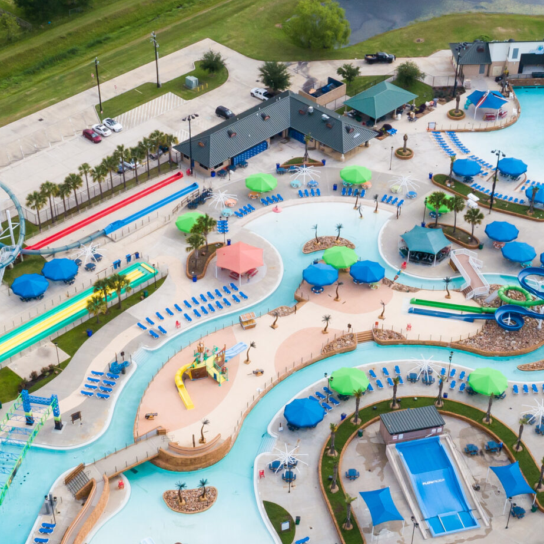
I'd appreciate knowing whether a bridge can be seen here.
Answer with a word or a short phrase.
Yes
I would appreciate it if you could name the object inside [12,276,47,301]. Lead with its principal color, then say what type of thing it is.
blue umbrella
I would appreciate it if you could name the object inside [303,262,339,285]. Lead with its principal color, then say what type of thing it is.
blue umbrella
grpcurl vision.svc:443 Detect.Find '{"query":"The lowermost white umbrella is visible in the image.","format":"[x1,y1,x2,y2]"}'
[263,444,307,474]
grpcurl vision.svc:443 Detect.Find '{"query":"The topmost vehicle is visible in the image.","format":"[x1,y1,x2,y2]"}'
[365,50,396,63]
